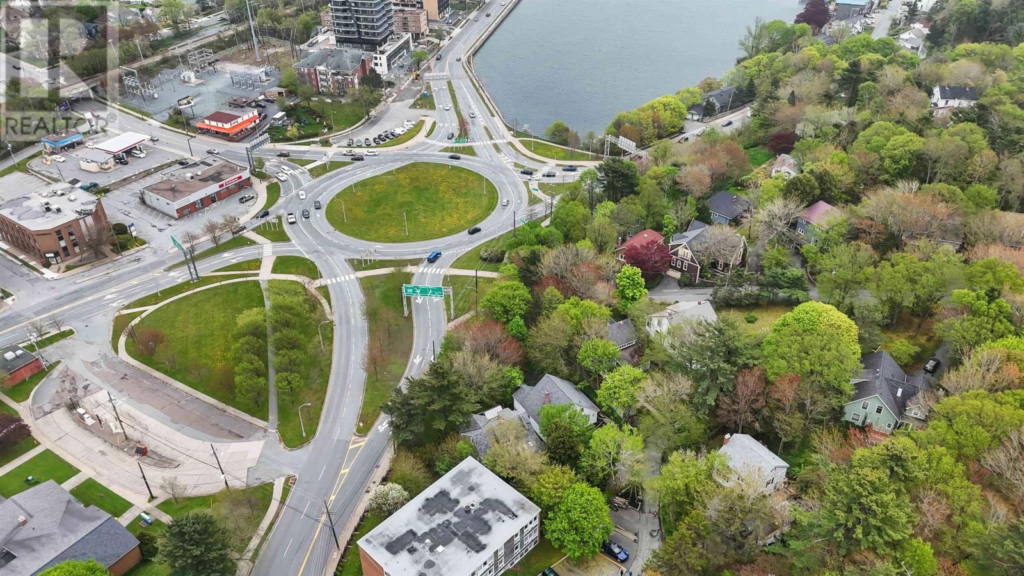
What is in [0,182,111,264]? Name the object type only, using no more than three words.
building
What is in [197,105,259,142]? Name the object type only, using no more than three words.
building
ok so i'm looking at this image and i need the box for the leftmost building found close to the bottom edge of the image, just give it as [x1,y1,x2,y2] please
[0,478,147,576]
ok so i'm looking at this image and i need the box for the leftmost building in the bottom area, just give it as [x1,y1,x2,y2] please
[0,345,42,387]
